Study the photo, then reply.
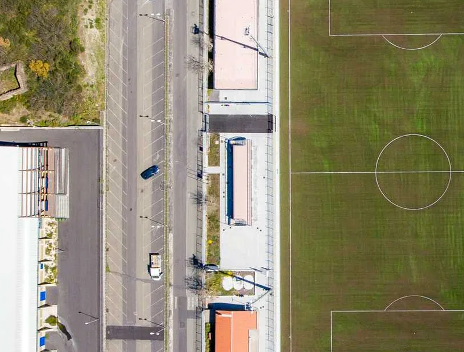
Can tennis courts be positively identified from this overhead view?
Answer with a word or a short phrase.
No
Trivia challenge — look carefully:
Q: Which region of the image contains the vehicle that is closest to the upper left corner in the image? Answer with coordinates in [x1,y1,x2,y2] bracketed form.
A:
[139,166,159,179]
